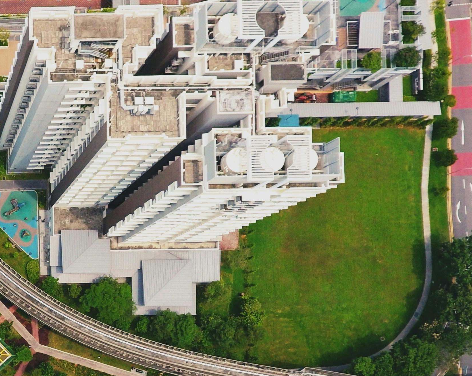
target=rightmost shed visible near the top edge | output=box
[352,12,385,52]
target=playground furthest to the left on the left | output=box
[0,189,39,258]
